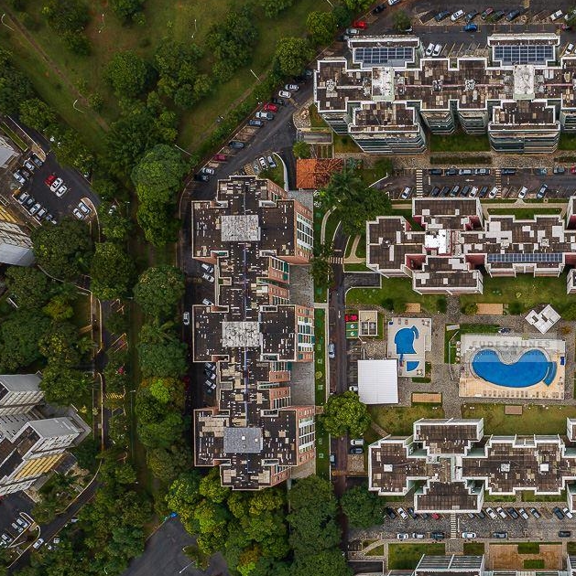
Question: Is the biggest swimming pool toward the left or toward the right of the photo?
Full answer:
You can find the biggest swimming pool on the right side of the picture.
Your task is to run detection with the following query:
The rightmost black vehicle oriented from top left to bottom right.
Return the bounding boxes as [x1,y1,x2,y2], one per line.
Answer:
[550,505,564,520]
